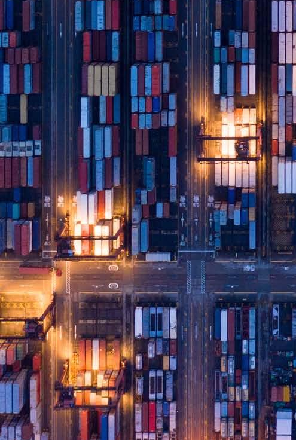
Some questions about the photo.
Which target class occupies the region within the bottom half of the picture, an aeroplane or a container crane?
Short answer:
container crane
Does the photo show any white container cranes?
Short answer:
No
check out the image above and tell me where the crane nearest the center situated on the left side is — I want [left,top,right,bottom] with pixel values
[50,215,128,261]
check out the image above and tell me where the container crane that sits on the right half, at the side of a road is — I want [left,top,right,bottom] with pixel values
[196,119,265,161]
